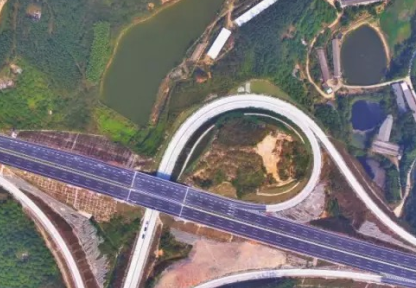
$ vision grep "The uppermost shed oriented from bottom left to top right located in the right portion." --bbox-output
[234,0,278,26]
